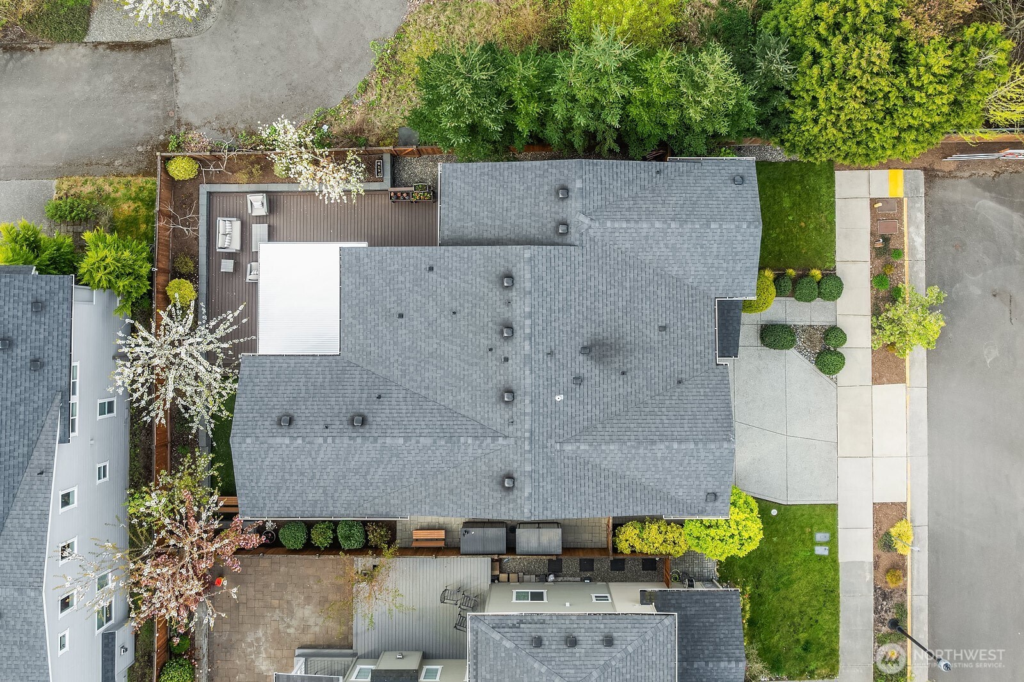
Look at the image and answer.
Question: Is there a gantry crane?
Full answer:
No, the frame has no gantry crane in it.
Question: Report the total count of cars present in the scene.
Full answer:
There are no cars in the image.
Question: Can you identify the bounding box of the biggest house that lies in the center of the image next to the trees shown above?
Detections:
[230,155,763,526]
